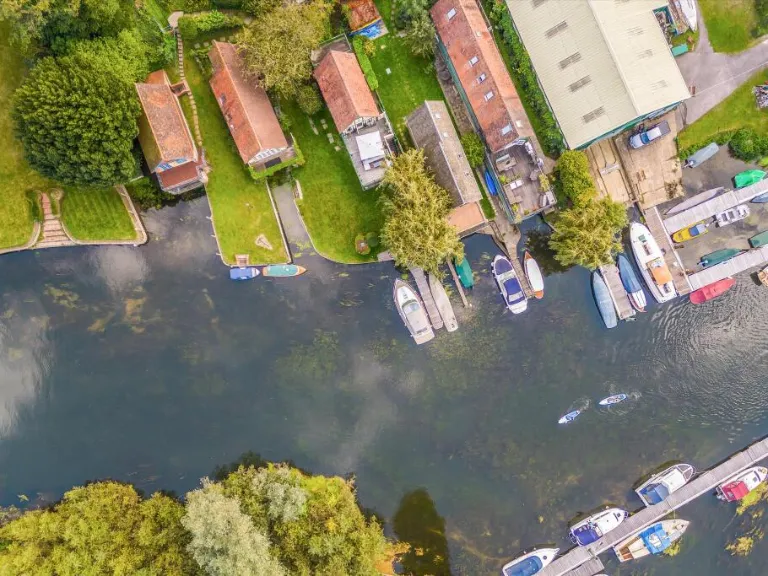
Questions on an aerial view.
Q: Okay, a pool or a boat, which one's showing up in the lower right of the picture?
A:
boat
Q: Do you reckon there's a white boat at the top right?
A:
Yes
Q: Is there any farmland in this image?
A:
No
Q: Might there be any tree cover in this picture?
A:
Yes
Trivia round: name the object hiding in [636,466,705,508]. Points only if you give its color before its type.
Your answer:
white boat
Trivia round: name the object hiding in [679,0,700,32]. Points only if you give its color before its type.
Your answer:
white boat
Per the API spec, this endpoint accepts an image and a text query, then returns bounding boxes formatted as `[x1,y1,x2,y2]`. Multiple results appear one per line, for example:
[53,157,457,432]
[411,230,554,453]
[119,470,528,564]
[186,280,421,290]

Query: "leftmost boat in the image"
[230,263,260,279]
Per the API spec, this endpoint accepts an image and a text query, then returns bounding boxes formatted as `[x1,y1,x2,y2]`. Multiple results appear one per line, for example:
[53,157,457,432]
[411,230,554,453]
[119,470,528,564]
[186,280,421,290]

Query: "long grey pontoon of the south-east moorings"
[541,433,768,576]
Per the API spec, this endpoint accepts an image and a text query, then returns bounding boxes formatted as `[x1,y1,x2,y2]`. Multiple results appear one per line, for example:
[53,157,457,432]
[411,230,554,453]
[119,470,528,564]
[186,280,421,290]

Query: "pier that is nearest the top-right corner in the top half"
[731,174,768,203]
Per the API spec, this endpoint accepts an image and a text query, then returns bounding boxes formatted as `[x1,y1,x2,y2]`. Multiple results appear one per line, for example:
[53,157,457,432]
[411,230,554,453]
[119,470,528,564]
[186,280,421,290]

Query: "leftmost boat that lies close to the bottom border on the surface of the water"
[503,547,569,576]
